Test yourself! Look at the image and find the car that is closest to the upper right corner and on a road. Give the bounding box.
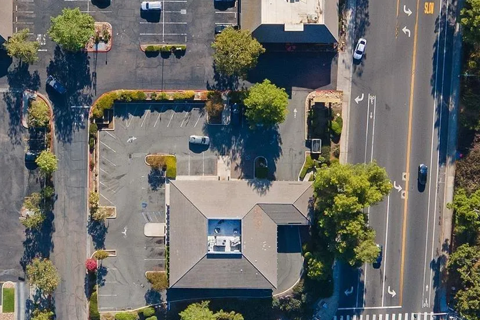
[351,37,367,60]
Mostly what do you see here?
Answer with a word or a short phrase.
paved ground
